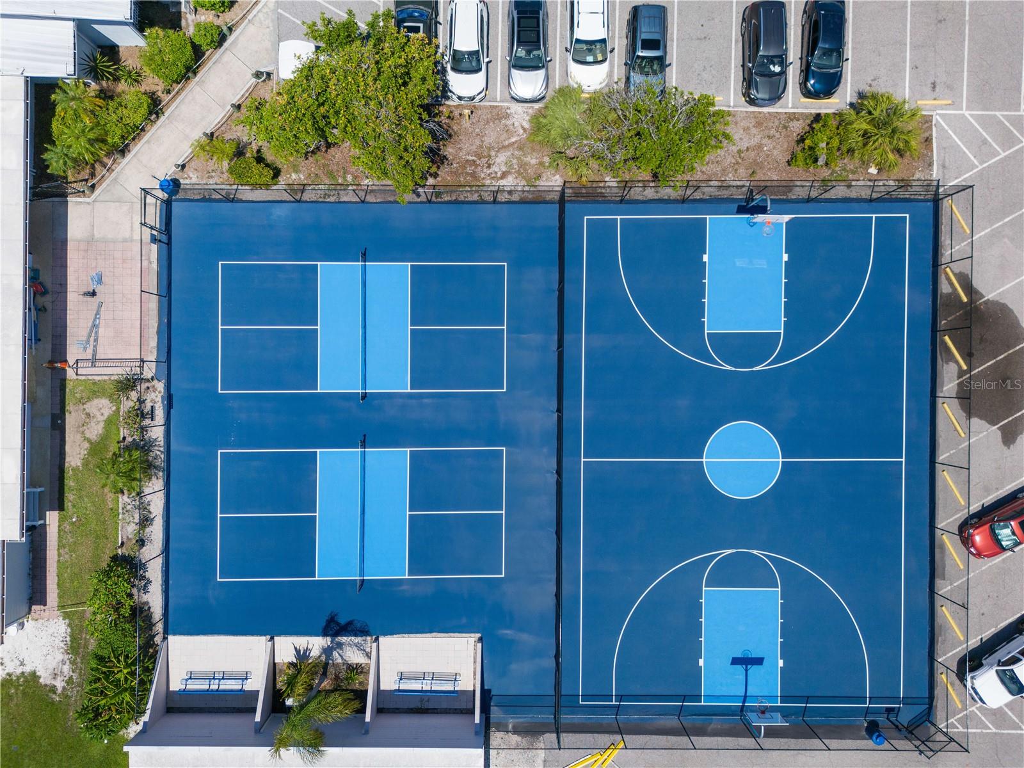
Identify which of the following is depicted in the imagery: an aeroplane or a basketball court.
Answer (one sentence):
There is a basketball court in the scene.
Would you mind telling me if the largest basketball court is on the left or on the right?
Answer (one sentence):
The largest basketball court is on the right side of the image.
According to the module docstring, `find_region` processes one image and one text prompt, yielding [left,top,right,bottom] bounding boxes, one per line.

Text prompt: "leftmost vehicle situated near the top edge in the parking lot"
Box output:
[442,0,492,103]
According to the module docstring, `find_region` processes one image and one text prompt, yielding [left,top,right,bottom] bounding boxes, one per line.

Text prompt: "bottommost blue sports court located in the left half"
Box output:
[217,448,505,581]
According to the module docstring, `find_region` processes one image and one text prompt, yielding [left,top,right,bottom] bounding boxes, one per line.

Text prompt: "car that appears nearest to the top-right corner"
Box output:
[801,0,854,101]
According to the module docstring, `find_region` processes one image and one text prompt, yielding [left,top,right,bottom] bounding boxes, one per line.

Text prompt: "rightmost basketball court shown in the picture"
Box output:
[559,199,941,722]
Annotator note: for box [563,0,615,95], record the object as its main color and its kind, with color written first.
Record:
white car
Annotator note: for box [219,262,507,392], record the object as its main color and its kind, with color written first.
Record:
blue sports court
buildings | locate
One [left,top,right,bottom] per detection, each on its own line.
[120,712,485,768]
[0,79,40,541]
[0,0,169,45]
